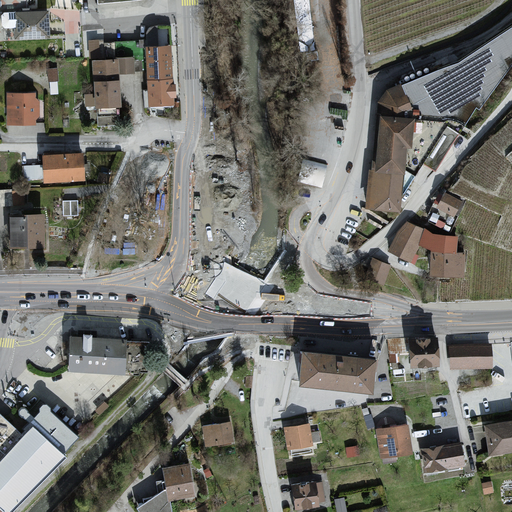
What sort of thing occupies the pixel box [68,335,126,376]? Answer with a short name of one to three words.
building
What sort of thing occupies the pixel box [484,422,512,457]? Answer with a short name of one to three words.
house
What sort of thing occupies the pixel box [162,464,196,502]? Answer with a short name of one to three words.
house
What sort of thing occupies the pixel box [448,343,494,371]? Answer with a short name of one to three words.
barn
